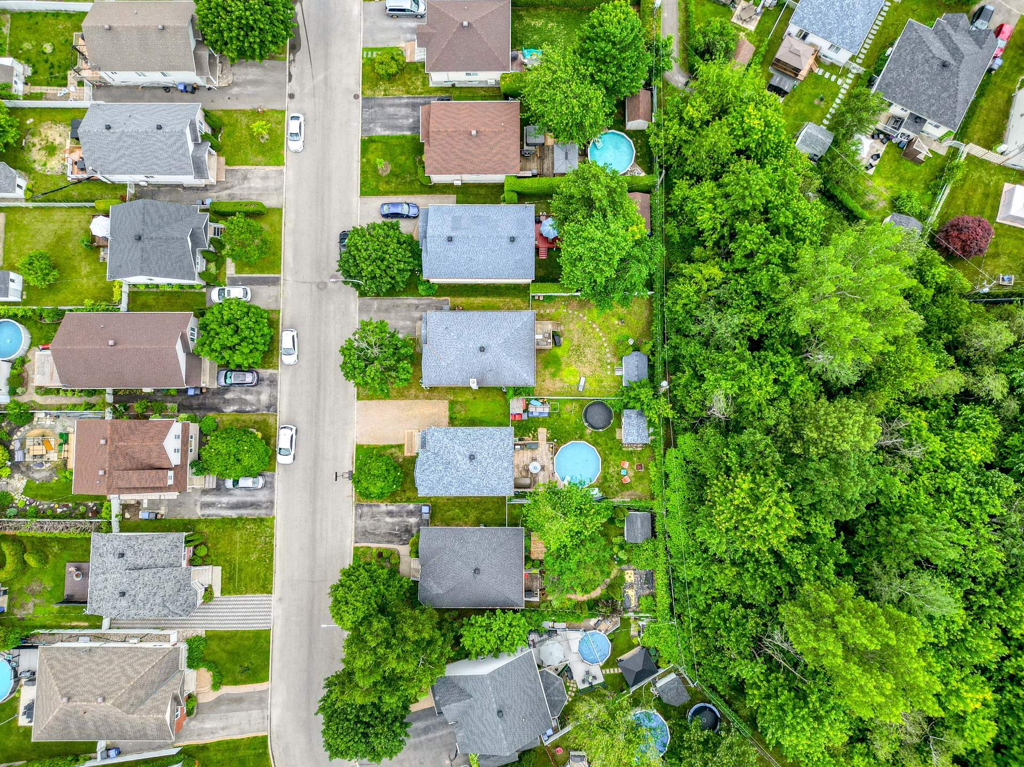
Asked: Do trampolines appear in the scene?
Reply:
Yes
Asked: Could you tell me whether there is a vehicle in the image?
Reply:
Yes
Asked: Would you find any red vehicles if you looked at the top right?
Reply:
Yes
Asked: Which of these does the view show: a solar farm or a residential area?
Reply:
residential area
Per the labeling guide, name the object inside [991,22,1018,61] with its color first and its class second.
red car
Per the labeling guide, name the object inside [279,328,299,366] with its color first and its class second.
white car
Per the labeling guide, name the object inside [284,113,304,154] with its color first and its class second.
white car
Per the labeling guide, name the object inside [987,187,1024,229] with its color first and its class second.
white gazebo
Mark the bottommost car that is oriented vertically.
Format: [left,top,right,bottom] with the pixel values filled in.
[276,424,296,464]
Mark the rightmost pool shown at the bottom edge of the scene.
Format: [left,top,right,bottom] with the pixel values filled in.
[627,706,670,752]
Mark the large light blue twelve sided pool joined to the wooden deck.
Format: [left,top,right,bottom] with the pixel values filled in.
[555,439,601,486]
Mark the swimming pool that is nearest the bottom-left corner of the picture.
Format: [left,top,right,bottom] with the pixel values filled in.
[0,659,20,697]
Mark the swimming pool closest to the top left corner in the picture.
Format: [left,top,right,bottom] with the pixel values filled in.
[0,322,32,358]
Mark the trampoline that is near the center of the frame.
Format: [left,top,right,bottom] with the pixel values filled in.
[582,400,613,431]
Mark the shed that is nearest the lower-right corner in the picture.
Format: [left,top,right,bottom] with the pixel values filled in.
[655,670,691,708]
